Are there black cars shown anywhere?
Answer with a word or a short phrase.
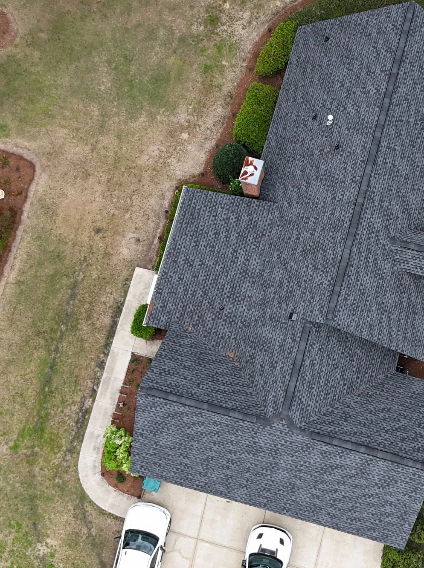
No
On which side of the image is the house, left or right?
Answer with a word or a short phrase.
right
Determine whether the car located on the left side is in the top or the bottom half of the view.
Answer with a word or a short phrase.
bottom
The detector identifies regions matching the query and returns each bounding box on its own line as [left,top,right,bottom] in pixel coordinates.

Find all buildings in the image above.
[130,0,424,548]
